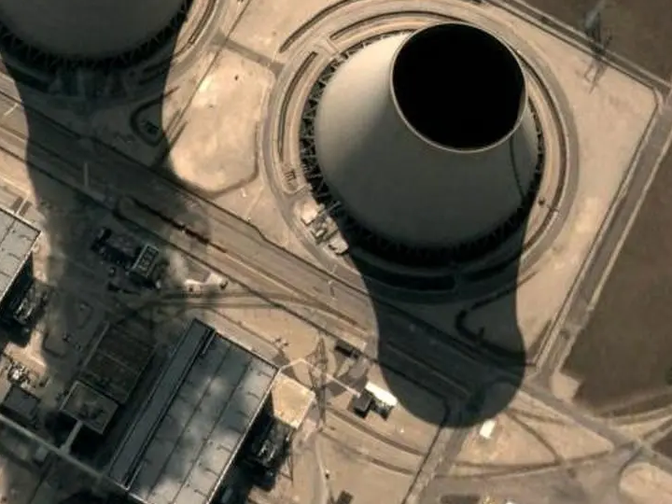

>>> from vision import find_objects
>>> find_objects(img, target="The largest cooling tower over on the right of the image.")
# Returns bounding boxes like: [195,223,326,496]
[299,21,544,268]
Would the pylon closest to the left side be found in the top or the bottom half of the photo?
bottom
